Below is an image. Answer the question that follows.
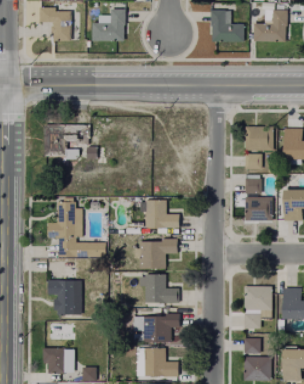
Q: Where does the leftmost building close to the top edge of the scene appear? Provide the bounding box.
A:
[40,8,72,41]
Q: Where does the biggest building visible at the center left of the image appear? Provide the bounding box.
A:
[48,202,108,257]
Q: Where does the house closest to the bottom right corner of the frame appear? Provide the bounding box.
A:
[282,346,304,382]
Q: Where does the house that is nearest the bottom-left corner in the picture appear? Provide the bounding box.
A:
[44,348,76,374]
